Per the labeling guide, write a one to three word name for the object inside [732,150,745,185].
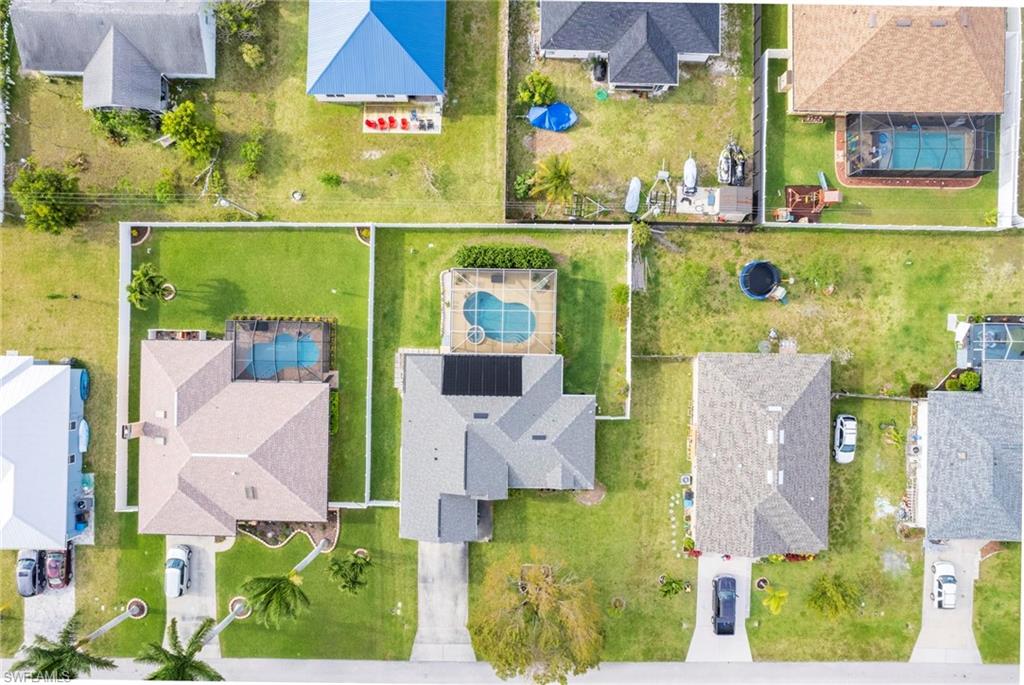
boat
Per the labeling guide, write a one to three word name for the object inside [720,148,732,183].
boat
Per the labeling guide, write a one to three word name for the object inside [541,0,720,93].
house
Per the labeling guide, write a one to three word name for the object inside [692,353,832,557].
house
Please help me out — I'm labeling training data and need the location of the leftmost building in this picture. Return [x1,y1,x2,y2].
[0,348,86,550]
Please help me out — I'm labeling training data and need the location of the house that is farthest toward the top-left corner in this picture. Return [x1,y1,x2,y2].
[9,0,215,113]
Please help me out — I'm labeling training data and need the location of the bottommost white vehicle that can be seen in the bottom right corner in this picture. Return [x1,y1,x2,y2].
[929,560,959,609]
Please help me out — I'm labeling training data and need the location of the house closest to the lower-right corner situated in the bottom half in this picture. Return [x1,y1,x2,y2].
[913,361,1024,541]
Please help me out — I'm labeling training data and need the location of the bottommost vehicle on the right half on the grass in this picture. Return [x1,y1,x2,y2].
[831,413,858,462]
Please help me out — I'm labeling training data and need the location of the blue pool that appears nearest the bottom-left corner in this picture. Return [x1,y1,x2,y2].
[246,331,321,381]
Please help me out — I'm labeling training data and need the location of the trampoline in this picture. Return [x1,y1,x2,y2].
[742,260,783,300]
